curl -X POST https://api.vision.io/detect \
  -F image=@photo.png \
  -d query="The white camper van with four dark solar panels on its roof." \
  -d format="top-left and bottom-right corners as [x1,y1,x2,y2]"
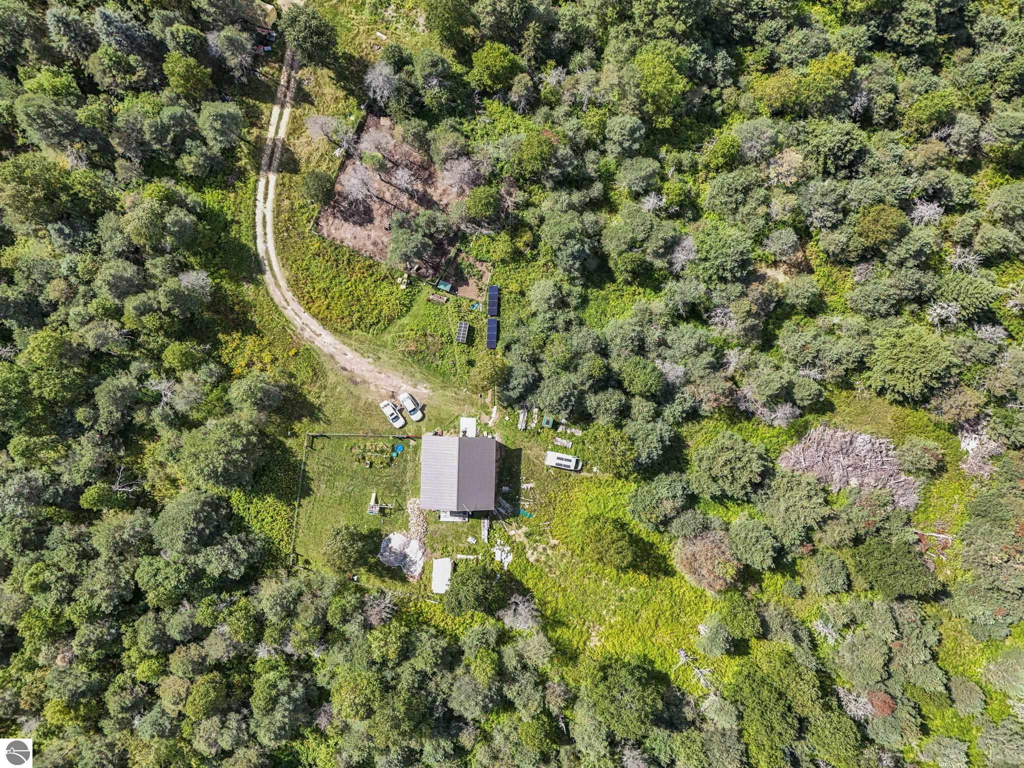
[544,451,582,472]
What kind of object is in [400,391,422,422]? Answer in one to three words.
car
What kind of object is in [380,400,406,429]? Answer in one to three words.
car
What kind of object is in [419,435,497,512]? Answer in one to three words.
house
